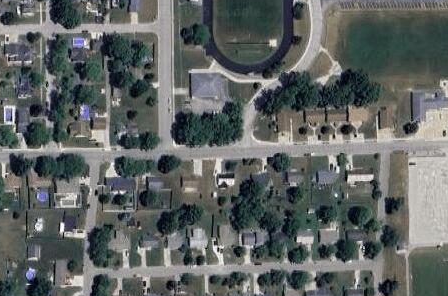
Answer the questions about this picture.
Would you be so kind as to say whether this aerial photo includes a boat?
No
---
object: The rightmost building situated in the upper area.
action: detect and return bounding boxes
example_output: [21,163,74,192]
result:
[412,91,448,122]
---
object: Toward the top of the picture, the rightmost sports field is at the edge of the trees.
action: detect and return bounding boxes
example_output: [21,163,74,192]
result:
[334,11,448,82]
